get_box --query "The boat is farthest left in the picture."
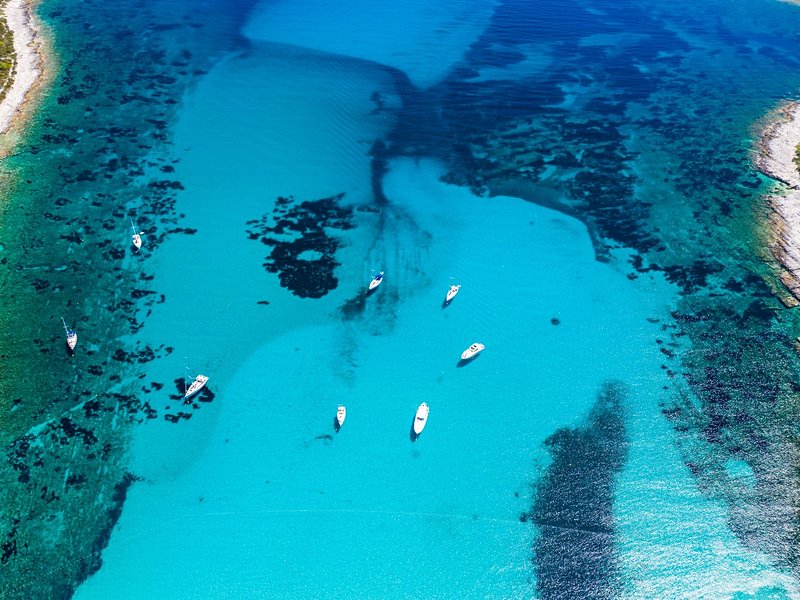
[62,316,77,351]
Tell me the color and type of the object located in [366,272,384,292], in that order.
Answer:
white boat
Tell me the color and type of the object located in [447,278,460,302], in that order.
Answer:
white boat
